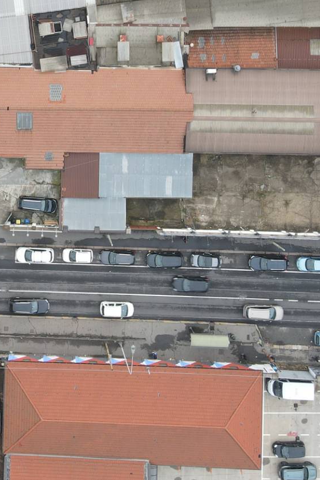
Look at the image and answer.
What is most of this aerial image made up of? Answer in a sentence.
The scene is dominated by buildings.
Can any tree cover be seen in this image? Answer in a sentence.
No, the scene doesn't show any tree cover.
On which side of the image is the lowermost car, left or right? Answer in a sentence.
The lowermost car sits on the right side.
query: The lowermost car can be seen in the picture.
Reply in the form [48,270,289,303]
[276,460,318,480]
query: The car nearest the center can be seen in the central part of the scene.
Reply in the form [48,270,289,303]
[144,250,183,269]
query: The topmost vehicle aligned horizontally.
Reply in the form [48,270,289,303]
[18,195,57,214]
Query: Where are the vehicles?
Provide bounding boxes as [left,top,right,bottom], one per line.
[270,438,307,459]
[16,245,55,265]
[276,460,318,480]
[171,273,210,294]
[144,250,183,269]
[188,252,222,269]
[61,248,93,265]
[313,329,320,345]
[18,195,57,214]
[263,379,317,400]
[294,255,320,273]
[246,253,288,273]
[241,301,284,322]
[98,299,134,319]
[9,295,49,316]
[98,249,135,266]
